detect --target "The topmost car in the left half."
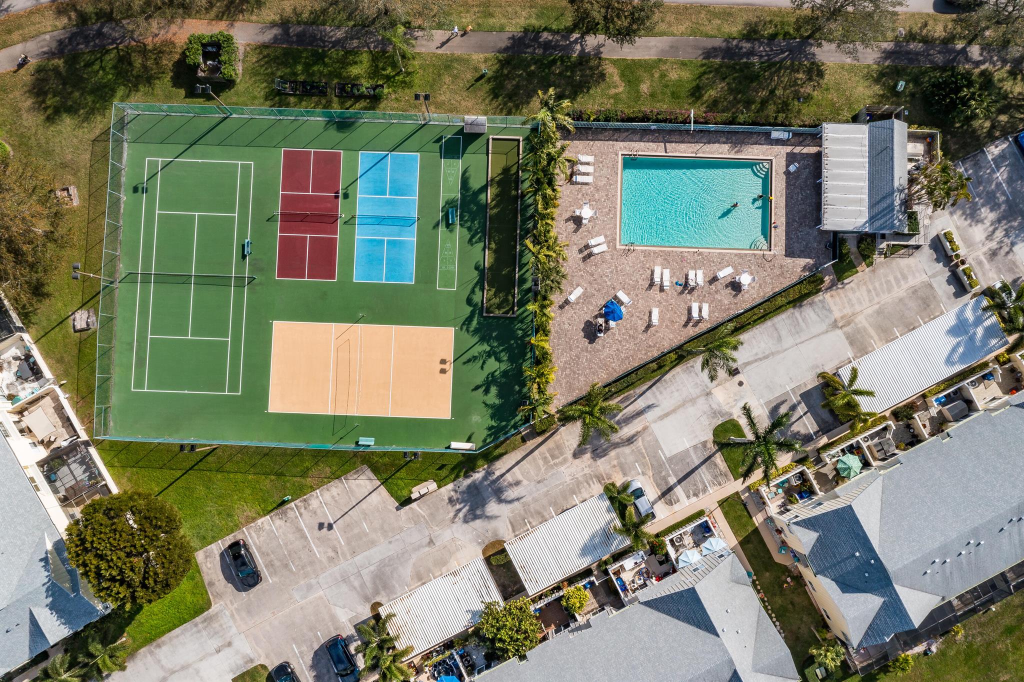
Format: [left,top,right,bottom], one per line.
[225,544,259,589]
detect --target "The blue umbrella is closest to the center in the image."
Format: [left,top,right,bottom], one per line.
[603,299,625,321]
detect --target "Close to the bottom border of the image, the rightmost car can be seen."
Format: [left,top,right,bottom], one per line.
[322,635,357,682]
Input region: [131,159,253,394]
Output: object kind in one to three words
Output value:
tennis court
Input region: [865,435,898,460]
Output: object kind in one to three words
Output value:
shed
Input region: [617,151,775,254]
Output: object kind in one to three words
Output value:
swimming pool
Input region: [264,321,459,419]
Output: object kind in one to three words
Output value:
sports court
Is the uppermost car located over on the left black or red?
black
